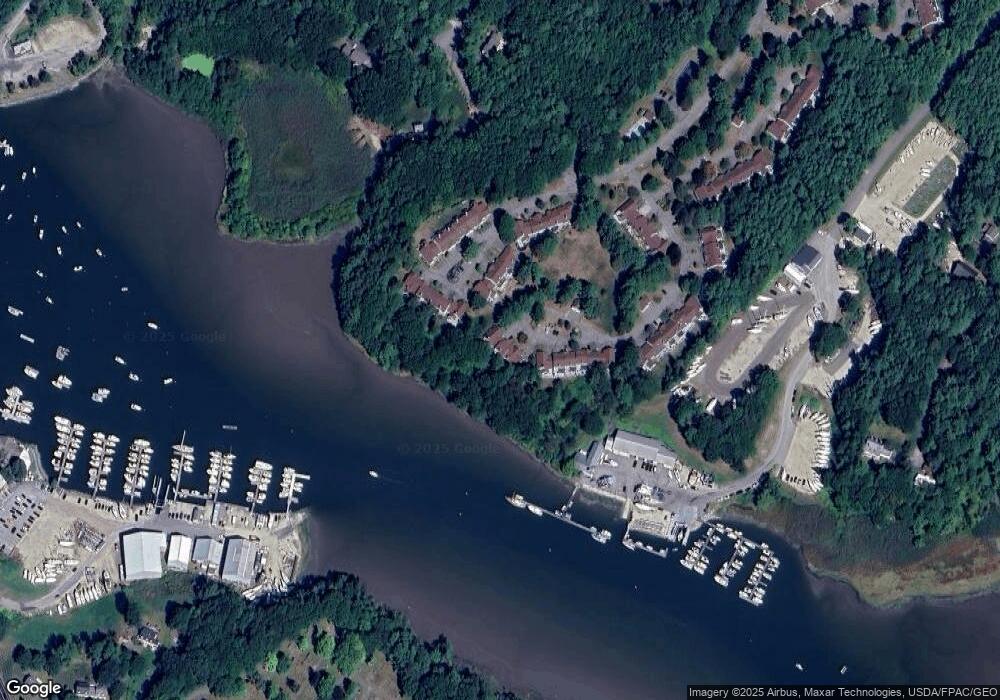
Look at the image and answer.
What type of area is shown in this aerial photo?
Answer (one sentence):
What you see here is a port.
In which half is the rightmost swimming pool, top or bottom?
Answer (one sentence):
The top half of the photo is where the rightmost swimming pool is.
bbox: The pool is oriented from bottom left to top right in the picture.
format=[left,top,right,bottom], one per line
[620,116,648,139]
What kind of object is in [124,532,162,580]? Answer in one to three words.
shed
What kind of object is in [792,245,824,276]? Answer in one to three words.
building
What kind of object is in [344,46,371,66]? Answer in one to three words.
house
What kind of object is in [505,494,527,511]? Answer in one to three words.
boat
